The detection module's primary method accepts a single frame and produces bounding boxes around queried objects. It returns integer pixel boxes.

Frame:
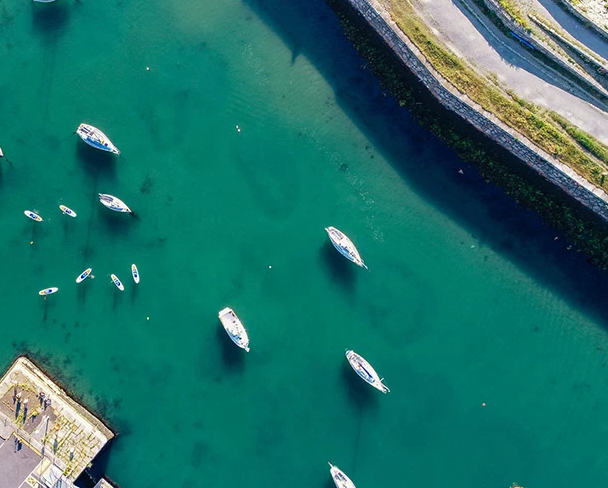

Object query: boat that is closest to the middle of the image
[325,224,368,271]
